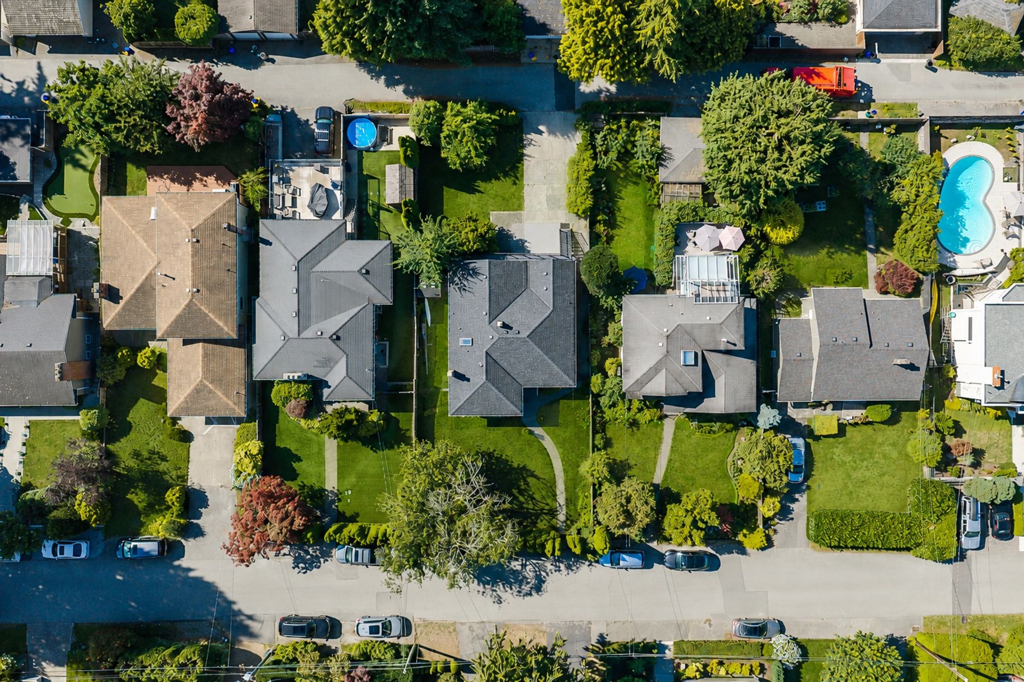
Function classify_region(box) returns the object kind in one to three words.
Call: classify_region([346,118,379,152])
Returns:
swimming pool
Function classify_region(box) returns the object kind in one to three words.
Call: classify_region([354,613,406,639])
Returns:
car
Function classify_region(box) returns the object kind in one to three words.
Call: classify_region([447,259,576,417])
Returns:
house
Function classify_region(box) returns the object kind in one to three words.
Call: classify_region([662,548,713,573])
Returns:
car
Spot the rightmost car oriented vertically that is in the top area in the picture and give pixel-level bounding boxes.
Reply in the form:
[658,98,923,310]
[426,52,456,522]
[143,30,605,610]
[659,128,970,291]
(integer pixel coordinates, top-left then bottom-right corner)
[313,107,338,159]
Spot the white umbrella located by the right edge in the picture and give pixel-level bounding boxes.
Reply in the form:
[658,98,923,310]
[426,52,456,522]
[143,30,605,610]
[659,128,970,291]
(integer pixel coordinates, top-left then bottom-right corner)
[999,186,1024,221]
